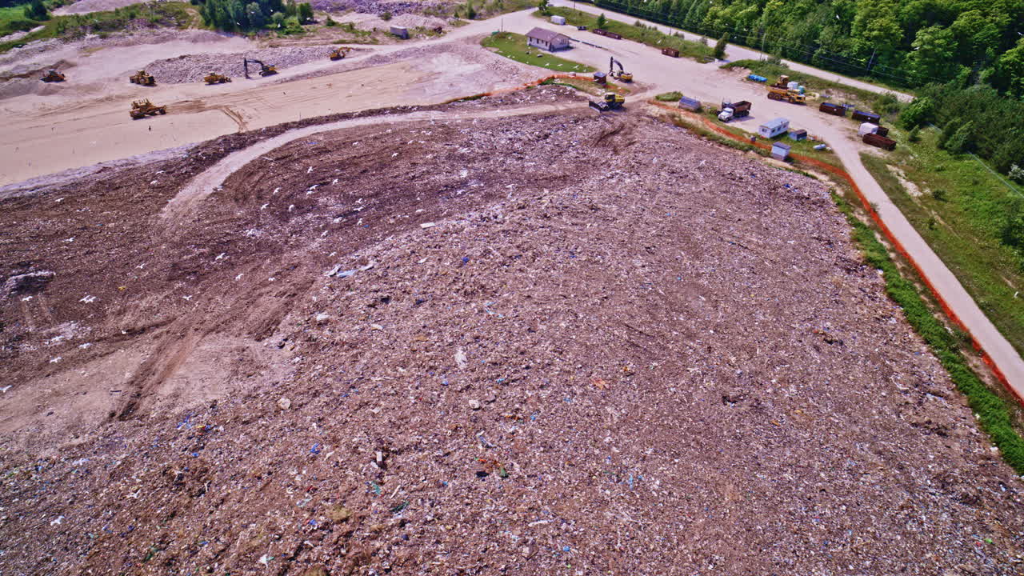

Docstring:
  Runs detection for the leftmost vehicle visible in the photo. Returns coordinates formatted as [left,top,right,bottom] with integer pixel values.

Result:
[36,67,64,81]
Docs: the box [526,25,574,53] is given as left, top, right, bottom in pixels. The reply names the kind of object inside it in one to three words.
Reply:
house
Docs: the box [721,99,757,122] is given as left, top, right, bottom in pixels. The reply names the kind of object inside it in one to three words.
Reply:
truck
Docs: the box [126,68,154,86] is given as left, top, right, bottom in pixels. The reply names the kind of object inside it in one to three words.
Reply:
work vehicle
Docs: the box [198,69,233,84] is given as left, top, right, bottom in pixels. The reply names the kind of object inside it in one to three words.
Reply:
work vehicle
